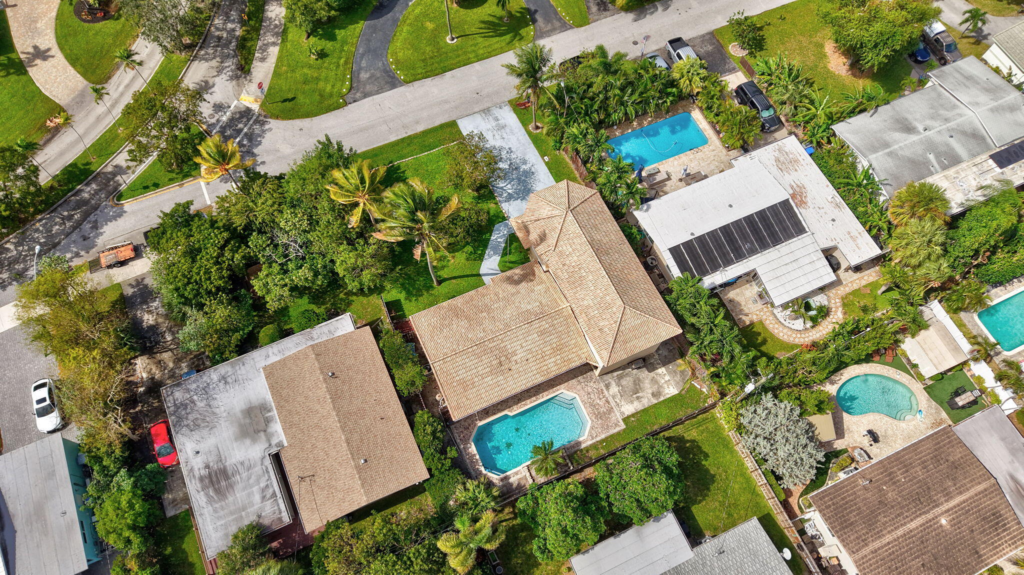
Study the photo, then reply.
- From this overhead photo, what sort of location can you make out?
residential area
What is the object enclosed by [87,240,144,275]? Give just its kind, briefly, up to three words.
trailer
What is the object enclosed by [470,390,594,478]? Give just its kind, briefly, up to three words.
swimming pool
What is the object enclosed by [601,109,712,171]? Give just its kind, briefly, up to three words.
swimming pool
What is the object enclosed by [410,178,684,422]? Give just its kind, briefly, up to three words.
house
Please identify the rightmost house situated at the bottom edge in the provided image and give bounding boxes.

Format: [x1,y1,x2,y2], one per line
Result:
[808,405,1024,575]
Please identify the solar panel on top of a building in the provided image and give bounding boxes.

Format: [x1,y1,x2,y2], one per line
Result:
[989,141,1024,169]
